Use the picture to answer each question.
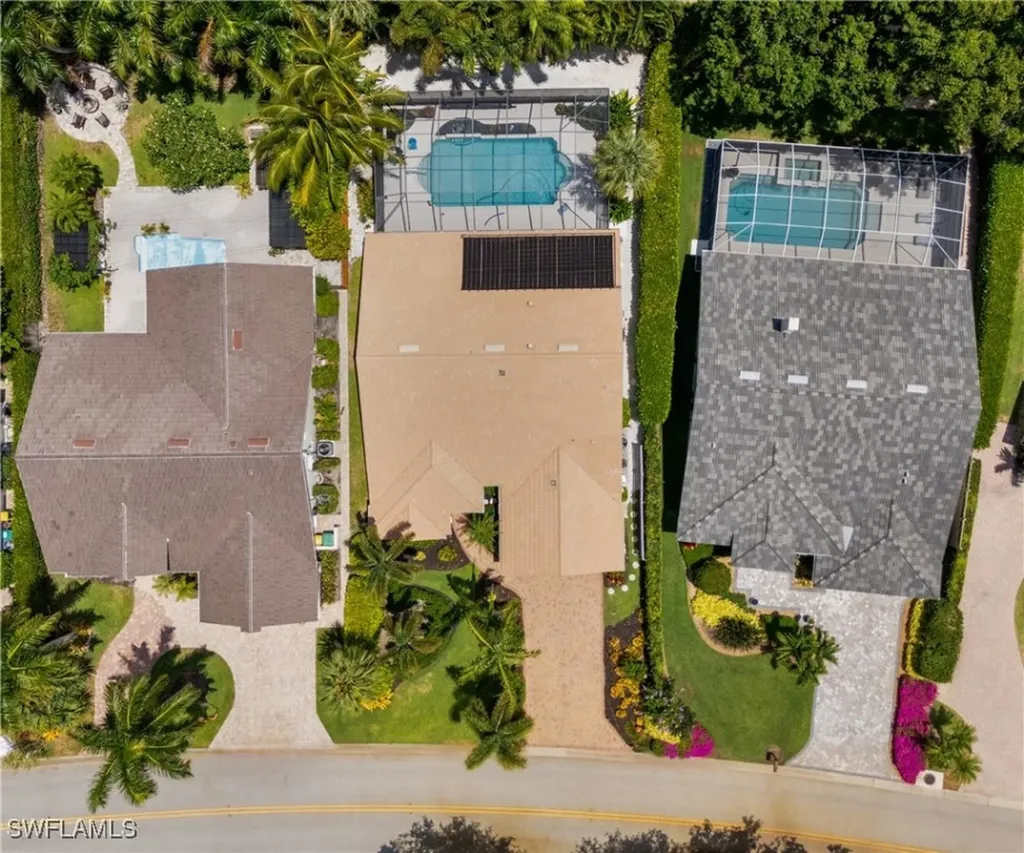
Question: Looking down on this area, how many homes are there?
3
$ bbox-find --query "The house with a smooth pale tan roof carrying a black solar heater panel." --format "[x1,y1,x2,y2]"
[356,230,623,577]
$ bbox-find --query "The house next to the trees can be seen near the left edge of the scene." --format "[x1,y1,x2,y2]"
[12,263,323,631]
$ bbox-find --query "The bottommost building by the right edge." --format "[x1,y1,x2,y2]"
[674,248,982,600]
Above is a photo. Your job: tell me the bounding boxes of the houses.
[674,248,982,600]
[356,230,623,577]
[12,263,323,631]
